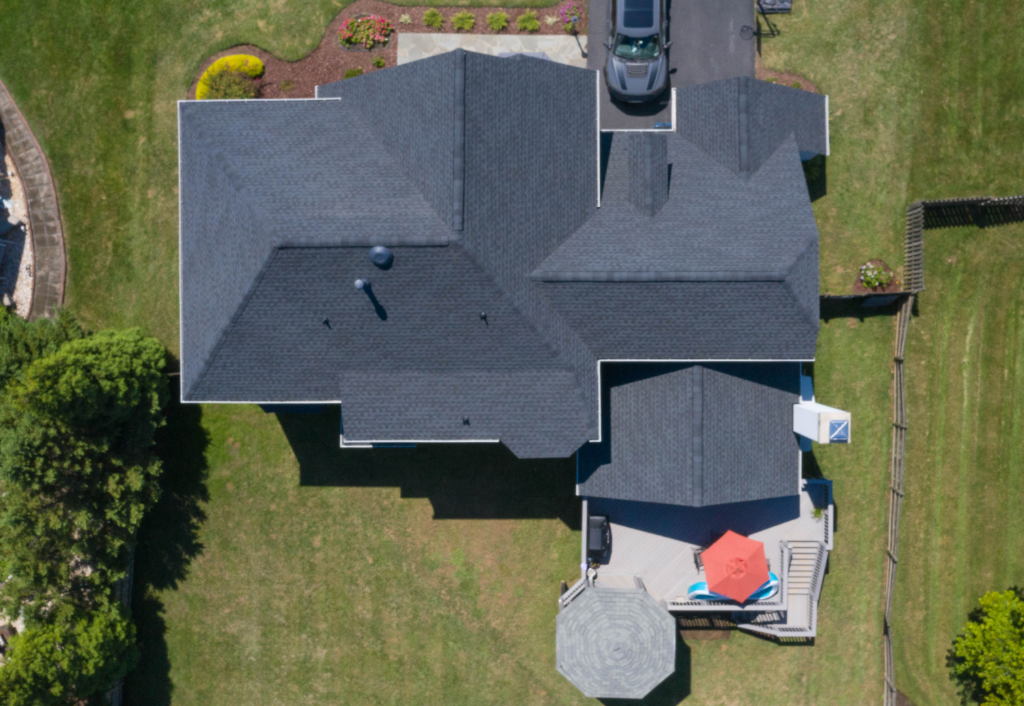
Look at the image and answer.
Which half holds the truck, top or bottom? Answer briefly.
top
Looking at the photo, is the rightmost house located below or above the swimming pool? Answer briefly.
above it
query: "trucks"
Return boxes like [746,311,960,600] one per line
[600,0,676,109]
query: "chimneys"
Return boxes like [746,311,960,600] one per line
[794,374,852,450]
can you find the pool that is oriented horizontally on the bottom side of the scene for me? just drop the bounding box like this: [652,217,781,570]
[685,570,782,603]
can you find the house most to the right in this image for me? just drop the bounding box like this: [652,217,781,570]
[178,48,831,507]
